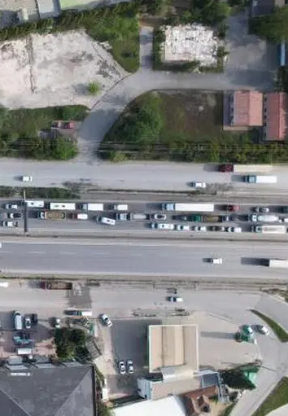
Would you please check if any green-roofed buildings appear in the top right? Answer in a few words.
No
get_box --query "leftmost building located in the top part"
[223,91,263,129]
